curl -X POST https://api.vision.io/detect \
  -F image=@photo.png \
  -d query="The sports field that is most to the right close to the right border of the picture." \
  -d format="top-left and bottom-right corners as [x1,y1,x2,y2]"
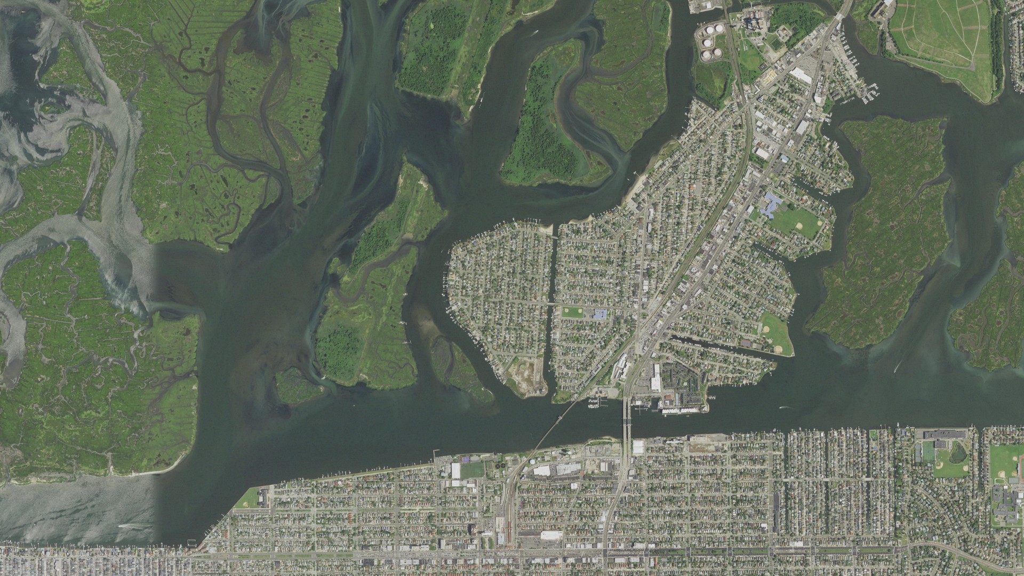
[990,444,1024,484]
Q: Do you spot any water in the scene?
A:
Yes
